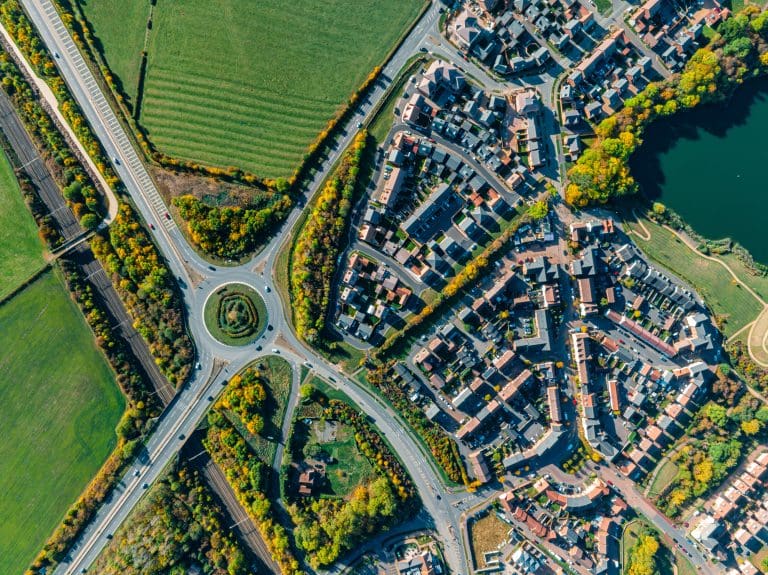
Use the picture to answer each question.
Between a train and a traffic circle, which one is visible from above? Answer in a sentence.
It is a traffic circle that can be seen here.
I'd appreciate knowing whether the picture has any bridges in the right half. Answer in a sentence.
No, I can find no bridge in the right half.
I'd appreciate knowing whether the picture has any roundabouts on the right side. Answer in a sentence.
No, no roundabout can be made out on the right side.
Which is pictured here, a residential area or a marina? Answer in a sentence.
What you see here is a residential area.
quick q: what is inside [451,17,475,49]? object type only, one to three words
building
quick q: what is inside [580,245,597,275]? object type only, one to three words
house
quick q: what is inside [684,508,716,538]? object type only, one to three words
building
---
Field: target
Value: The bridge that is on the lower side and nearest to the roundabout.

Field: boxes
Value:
[148,380,222,442]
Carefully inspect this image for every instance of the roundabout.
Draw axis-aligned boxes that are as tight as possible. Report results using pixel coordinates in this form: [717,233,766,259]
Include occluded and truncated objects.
[187,266,284,363]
